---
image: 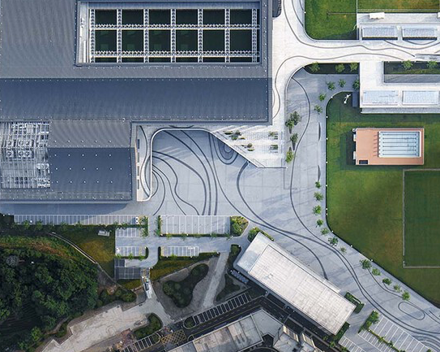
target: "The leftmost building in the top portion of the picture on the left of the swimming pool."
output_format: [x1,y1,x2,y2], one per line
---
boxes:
[0,0,273,202]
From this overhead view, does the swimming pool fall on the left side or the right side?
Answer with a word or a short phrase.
right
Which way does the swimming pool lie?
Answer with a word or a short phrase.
from left to right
